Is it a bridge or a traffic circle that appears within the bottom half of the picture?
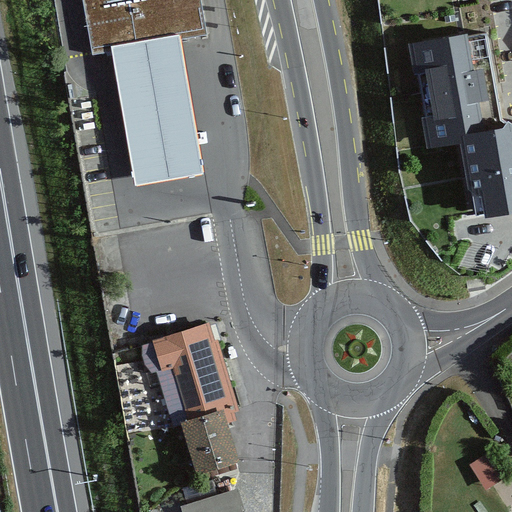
traffic circle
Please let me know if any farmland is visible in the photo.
No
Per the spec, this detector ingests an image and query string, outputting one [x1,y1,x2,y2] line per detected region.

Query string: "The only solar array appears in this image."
[190,339,225,403]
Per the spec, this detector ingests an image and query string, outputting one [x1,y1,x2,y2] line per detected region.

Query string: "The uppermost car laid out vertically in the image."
[224,64,236,88]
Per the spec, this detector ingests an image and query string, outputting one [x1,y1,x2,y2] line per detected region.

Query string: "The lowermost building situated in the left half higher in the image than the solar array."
[111,33,208,187]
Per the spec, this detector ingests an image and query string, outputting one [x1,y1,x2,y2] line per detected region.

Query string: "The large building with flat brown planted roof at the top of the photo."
[82,0,208,54]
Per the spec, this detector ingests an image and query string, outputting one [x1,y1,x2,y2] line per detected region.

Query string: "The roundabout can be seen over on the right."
[286,278,428,419]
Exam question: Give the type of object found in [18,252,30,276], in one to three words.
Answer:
vehicle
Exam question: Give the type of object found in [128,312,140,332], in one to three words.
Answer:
vehicle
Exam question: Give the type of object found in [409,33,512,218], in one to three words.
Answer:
building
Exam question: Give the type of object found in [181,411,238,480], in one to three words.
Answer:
house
